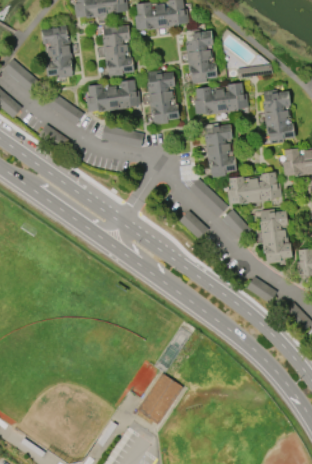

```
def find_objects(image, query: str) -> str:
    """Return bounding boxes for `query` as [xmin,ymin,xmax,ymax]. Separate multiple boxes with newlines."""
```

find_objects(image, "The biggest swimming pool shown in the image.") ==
[222,29,270,77]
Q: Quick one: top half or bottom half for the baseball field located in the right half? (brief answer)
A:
bottom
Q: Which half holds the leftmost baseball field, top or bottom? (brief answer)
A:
bottom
